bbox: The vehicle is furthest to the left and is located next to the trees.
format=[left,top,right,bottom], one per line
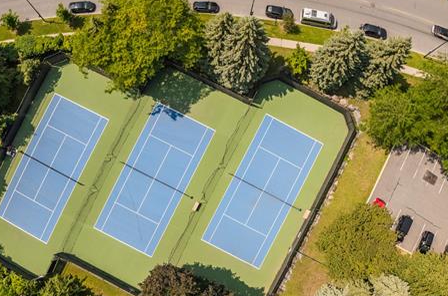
[68,0,97,14]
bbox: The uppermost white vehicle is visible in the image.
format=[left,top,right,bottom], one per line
[297,6,335,29]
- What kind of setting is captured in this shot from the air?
sports ground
